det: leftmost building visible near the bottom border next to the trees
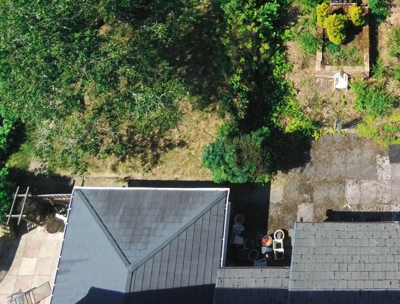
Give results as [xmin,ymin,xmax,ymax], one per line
[47,186,235,304]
